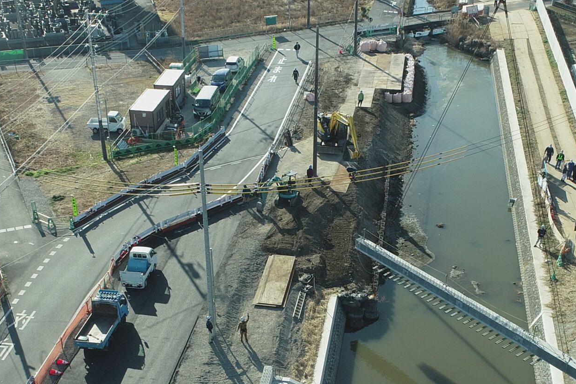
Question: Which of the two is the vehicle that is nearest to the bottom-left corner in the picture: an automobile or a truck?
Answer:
truck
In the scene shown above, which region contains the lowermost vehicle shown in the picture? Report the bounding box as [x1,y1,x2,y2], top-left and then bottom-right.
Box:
[72,282,131,347]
